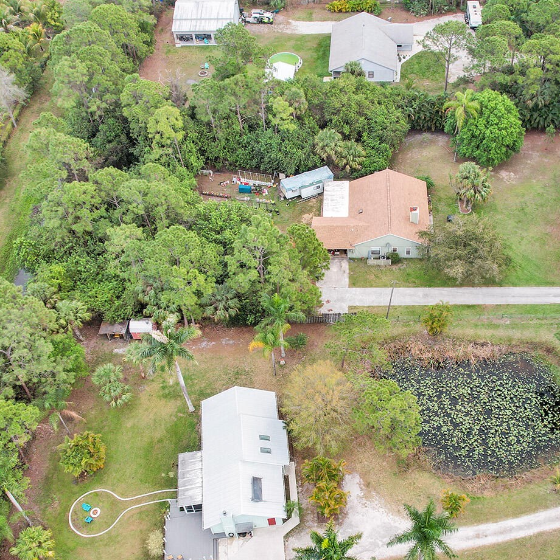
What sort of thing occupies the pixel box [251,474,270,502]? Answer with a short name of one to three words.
solar panel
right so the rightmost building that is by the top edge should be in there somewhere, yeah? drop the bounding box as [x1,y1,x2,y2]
[329,14,414,81]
